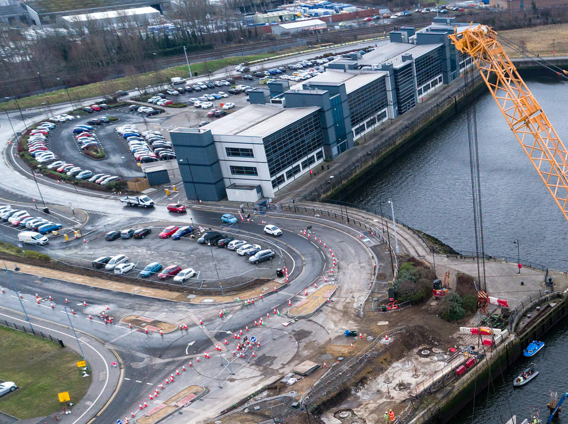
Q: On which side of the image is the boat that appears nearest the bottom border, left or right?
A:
right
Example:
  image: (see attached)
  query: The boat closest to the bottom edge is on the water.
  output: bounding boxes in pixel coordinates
[512,361,540,384]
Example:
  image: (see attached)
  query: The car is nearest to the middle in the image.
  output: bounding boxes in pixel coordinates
[263,223,282,236]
